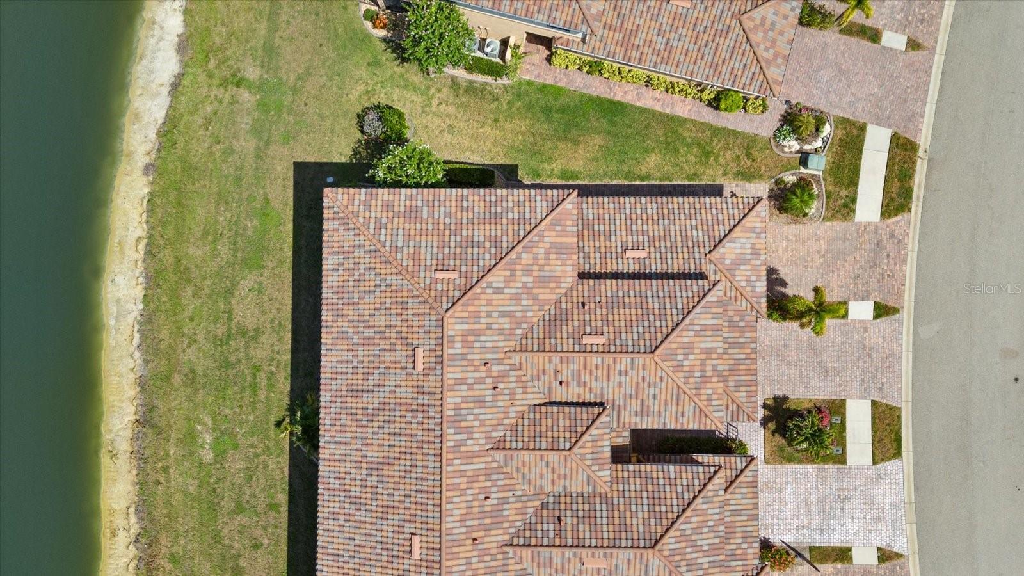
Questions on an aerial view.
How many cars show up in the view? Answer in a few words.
0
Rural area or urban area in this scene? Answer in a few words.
urban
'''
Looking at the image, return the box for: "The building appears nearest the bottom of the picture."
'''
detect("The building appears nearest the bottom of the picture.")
[314,186,776,576]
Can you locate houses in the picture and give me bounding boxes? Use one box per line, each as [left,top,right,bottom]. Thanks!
[314,186,776,576]
[376,0,797,101]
